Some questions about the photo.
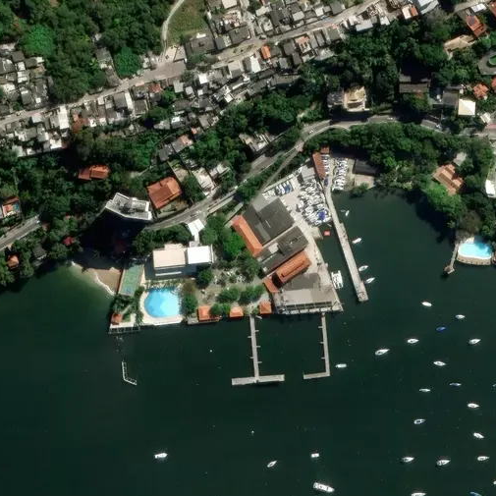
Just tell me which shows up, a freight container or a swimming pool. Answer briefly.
swimming pool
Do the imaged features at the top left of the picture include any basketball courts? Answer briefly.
No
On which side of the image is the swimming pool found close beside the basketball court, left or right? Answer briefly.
left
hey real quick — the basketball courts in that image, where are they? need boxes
[119,264,143,295]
